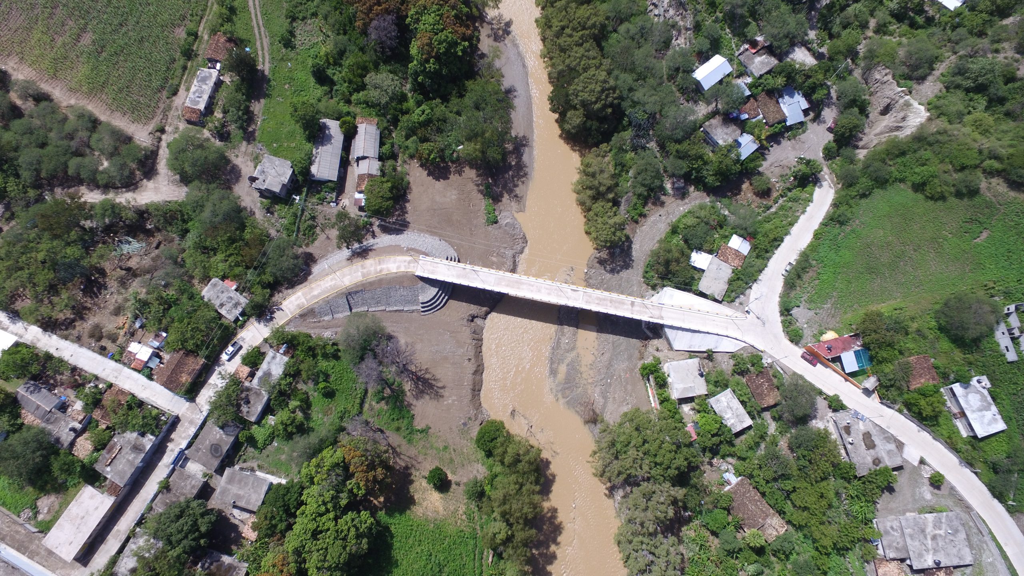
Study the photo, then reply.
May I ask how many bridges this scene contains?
1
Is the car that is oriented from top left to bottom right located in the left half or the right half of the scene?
right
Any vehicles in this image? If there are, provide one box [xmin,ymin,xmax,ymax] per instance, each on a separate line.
[826,112,842,134]
[799,349,823,369]
[779,257,796,279]
[219,339,241,364]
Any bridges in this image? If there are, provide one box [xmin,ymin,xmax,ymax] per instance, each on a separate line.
[416,254,764,352]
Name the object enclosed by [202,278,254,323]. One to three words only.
house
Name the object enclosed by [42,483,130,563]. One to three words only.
building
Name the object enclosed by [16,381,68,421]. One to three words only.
shed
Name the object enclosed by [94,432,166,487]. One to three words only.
house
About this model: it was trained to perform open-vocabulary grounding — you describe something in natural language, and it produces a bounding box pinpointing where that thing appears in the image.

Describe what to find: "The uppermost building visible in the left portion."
[204,31,238,68]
